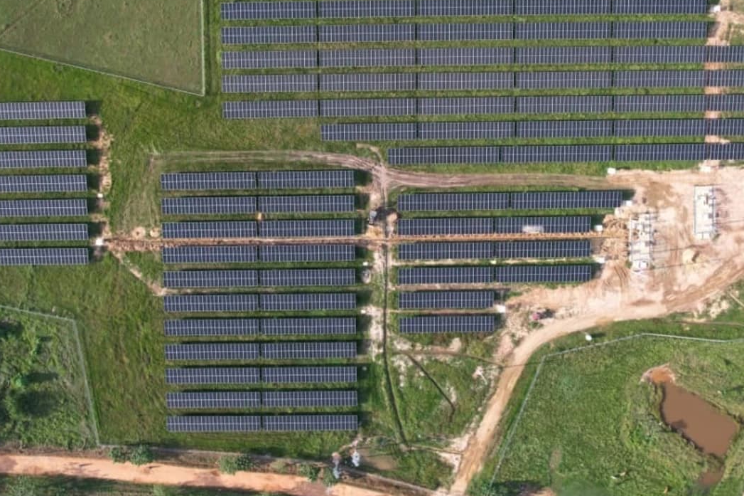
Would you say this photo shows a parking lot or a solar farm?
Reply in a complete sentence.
It's a solar farm.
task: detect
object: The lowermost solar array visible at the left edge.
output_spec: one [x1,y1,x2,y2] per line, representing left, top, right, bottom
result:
[0,248,89,265]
